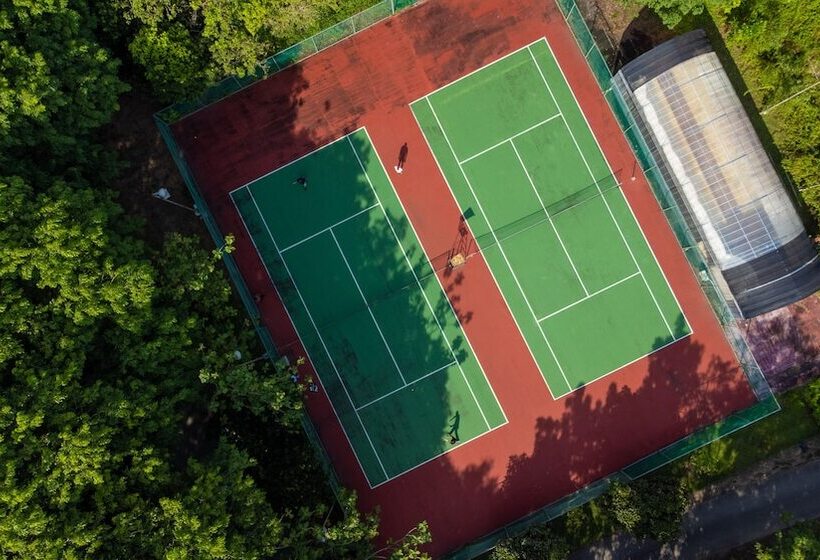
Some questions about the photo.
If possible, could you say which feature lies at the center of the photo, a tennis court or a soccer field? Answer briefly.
tennis court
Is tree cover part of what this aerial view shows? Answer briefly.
Yes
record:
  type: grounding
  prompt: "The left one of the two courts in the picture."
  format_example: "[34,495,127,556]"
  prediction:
[229,126,509,489]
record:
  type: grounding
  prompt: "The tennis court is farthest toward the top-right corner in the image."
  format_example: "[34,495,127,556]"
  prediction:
[408,36,693,400]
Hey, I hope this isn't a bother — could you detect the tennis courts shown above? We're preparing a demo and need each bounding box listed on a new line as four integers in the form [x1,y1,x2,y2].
[229,126,509,489]
[408,36,693,400]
